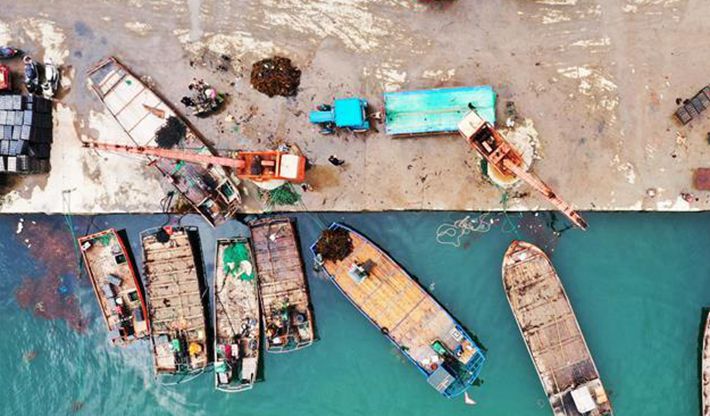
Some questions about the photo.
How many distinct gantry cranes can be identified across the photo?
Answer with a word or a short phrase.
2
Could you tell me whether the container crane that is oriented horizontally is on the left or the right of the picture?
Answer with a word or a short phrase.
left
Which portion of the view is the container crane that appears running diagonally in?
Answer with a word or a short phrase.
right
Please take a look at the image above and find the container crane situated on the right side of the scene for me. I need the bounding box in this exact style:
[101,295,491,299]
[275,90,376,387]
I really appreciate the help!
[456,114,587,229]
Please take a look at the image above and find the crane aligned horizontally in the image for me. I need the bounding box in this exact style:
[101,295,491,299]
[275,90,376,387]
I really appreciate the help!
[82,142,308,198]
